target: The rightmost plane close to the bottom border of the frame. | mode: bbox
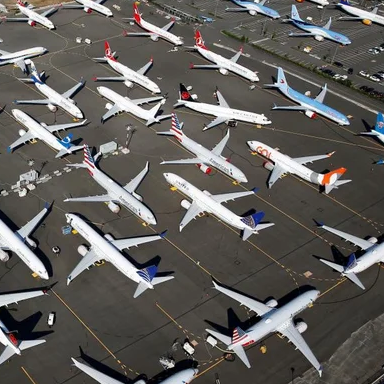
[208,279,325,372]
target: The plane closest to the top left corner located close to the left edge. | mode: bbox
[3,0,57,32]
